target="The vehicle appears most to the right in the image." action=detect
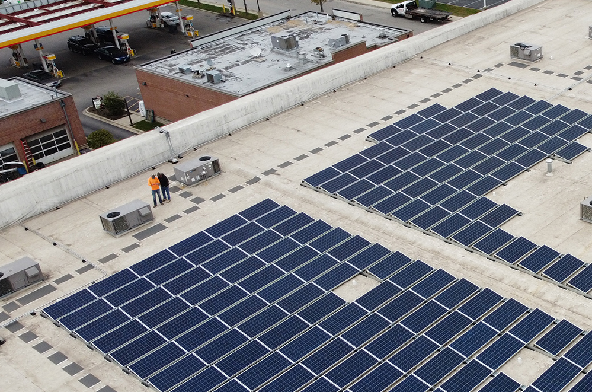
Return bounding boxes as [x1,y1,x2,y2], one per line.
[389,0,458,22]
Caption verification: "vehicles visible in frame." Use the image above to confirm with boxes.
[61,31,102,53]
[154,9,182,26]
[389,0,458,22]
[20,64,62,84]
[90,23,129,43]
[92,43,131,62]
